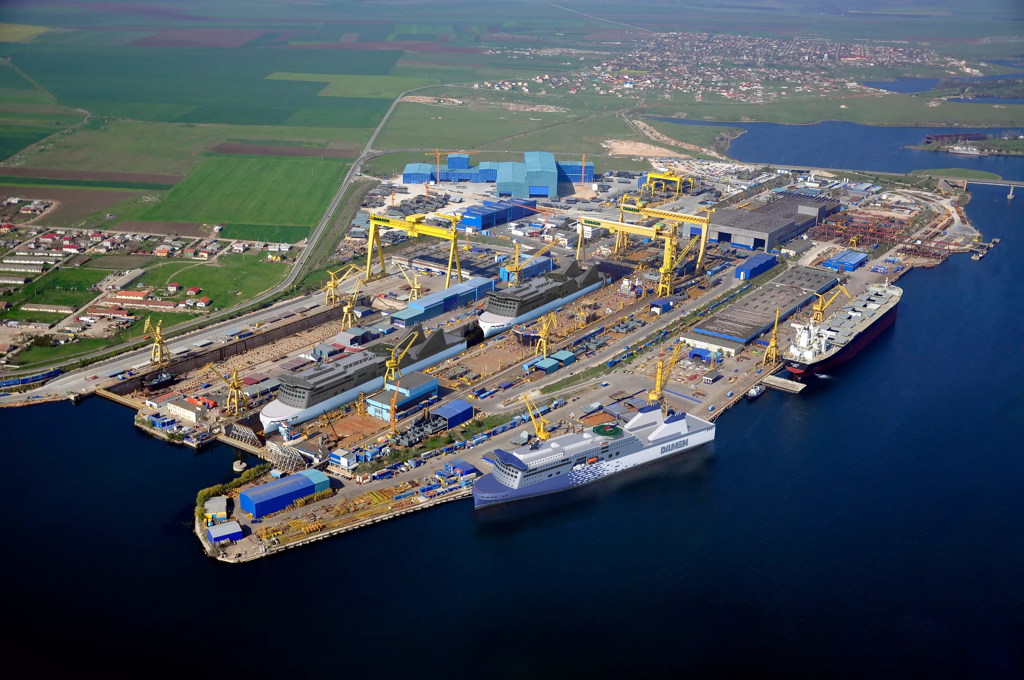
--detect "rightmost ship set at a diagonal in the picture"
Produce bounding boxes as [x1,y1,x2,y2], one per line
[786,274,904,378]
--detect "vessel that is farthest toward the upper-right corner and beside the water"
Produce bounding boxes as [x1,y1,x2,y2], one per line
[945,144,988,156]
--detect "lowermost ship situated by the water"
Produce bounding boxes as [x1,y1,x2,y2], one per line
[472,402,716,505]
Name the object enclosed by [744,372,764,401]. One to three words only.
boat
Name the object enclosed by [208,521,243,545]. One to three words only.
shed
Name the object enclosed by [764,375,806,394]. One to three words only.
pier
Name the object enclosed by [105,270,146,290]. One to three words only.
barn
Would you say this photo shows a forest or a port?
port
